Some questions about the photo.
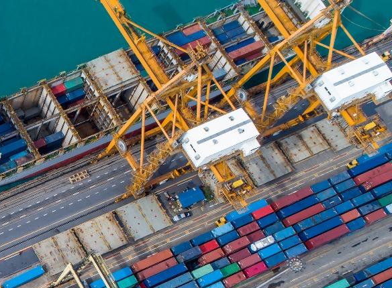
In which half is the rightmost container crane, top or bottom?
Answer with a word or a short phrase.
top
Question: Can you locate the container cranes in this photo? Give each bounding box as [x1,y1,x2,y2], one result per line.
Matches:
[43,254,125,288]
[93,0,273,212]
[210,0,392,155]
